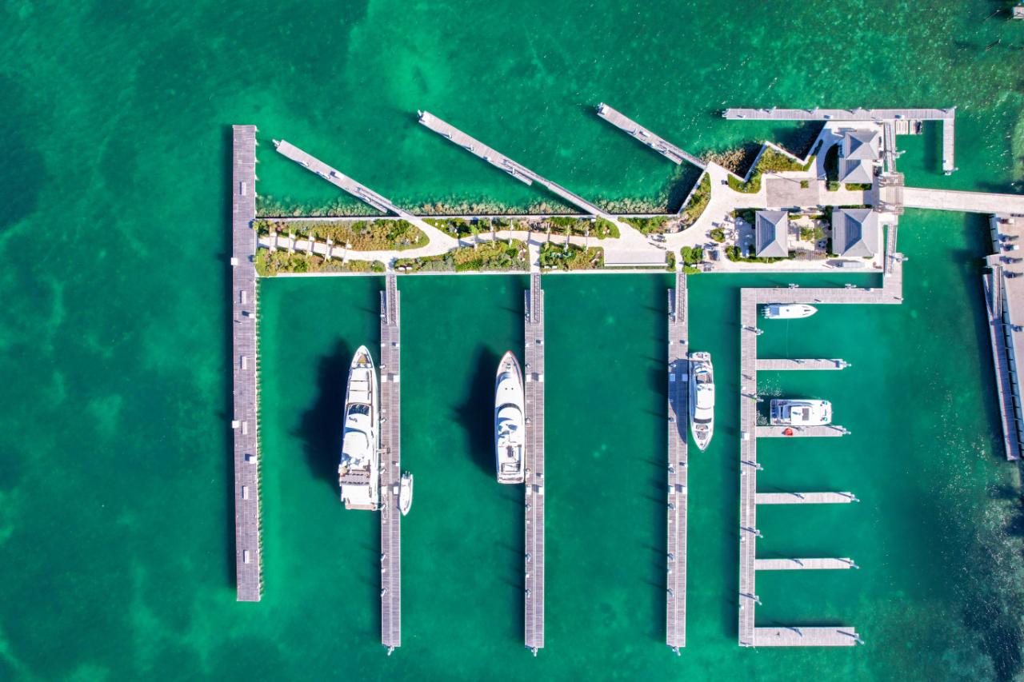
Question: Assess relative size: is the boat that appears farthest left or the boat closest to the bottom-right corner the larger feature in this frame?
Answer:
the boat that appears farthest left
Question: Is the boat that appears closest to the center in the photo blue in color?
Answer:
No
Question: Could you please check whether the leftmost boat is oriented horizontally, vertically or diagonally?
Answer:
vertically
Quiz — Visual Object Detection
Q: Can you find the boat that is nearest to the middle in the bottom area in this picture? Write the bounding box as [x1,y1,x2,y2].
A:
[494,351,528,483]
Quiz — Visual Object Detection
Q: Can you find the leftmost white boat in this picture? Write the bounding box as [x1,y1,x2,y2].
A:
[338,345,385,508]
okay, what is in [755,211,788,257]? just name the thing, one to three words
building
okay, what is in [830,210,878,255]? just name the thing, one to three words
building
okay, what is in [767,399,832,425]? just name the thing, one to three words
boat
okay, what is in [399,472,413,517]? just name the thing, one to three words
boat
